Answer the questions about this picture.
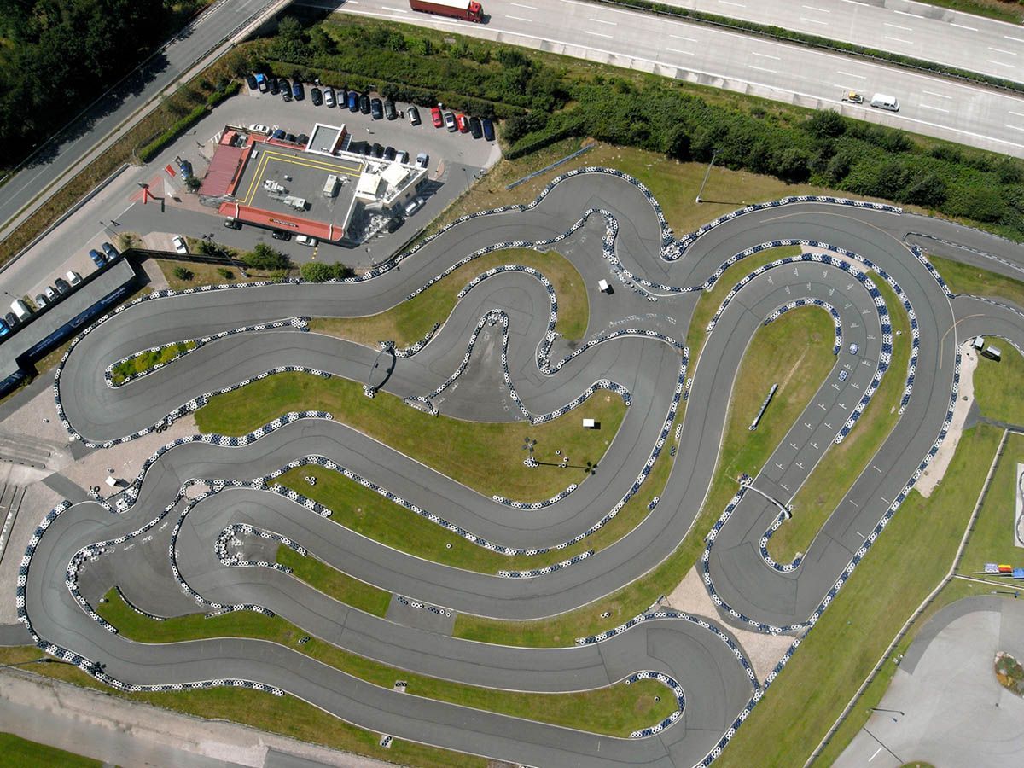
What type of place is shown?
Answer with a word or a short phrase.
sports ground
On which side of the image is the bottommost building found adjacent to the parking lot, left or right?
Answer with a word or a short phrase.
left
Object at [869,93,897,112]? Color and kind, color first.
white vehicle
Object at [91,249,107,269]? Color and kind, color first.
blue car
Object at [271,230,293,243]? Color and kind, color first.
black vehicle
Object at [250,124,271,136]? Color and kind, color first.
white vehicle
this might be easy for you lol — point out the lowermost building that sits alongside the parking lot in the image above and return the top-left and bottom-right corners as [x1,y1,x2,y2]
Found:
[0,257,141,393]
